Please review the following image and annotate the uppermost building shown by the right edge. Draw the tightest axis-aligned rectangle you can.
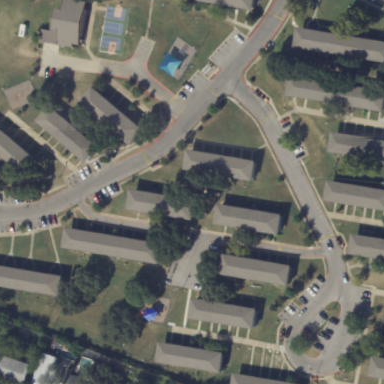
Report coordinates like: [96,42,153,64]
[292,27,384,60]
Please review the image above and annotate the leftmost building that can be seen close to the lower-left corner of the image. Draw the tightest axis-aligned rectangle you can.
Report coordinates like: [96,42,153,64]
[0,356,29,379]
